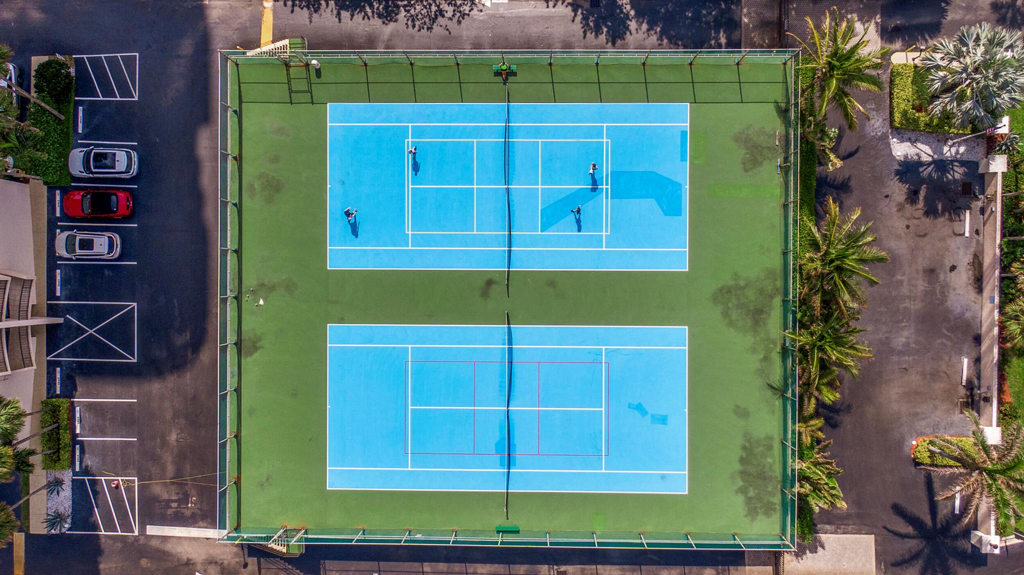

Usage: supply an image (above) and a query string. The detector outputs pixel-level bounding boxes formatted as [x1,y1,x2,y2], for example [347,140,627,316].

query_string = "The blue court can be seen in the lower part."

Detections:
[326,324,688,494]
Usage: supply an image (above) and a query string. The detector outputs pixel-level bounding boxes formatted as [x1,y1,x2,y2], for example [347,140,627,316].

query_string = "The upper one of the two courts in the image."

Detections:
[327,102,690,271]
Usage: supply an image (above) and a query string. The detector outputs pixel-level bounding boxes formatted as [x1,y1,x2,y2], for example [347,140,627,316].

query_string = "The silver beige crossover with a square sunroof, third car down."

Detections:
[56,228,122,262]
